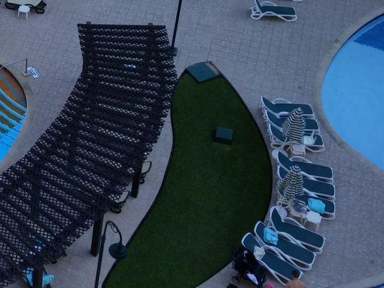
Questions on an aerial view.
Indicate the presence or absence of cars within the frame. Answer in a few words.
No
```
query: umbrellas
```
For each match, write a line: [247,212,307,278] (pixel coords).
[274,102,303,158]
[273,159,302,215]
